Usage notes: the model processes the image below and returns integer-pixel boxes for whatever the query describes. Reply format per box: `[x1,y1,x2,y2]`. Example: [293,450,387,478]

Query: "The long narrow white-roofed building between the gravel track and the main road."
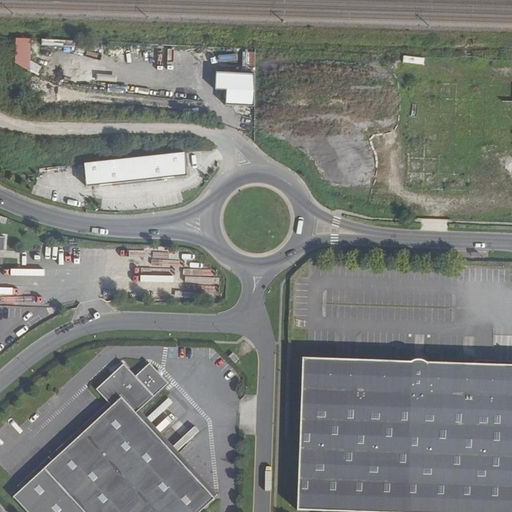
[84,152,186,188]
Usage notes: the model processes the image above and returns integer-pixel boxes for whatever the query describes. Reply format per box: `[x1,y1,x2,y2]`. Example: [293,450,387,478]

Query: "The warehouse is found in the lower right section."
[296,356,512,512]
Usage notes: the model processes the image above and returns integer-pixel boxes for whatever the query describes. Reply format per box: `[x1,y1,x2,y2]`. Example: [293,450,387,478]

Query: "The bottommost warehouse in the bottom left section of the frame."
[14,397,214,512]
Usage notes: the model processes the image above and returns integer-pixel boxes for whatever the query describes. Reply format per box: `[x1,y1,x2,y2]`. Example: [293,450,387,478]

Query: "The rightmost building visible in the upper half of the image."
[216,71,254,106]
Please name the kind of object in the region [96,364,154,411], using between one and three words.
building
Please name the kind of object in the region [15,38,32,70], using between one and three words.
shed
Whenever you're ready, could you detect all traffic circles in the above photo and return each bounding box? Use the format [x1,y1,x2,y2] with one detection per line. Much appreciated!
[201,164,313,276]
